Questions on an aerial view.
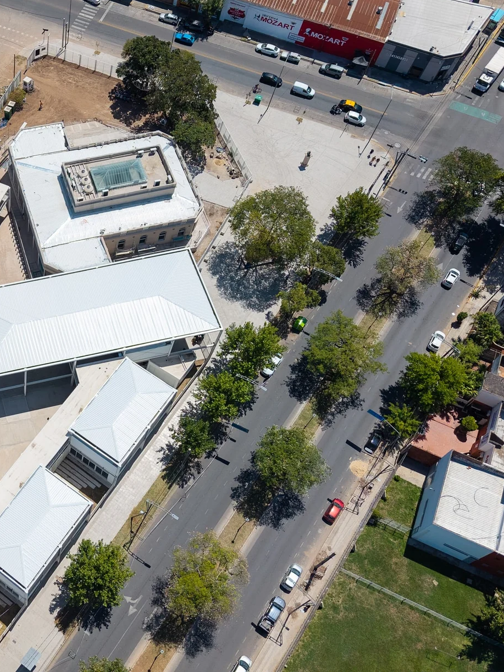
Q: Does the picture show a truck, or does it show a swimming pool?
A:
truck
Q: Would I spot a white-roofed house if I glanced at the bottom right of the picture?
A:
Yes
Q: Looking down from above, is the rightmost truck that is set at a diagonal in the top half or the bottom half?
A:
top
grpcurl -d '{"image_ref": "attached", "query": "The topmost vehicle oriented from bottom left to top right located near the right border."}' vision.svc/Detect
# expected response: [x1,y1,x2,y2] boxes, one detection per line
[472,46,504,96]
